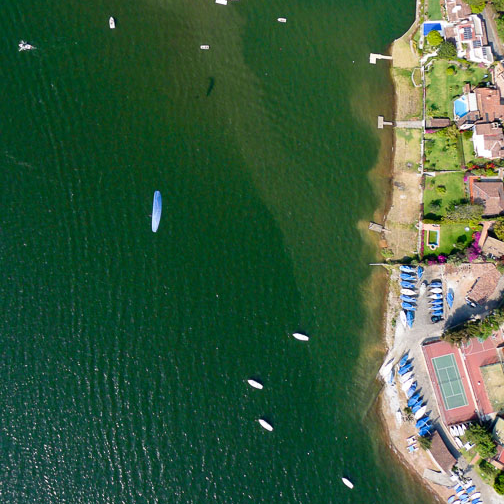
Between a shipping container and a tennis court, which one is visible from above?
tennis court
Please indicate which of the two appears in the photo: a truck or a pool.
pool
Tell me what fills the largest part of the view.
water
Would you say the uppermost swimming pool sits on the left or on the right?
right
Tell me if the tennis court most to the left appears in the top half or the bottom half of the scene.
bottom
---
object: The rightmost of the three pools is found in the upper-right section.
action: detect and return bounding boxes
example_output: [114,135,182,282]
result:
[453,94,470,120]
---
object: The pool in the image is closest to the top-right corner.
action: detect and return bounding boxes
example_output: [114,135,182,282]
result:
[420,21,445,41]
